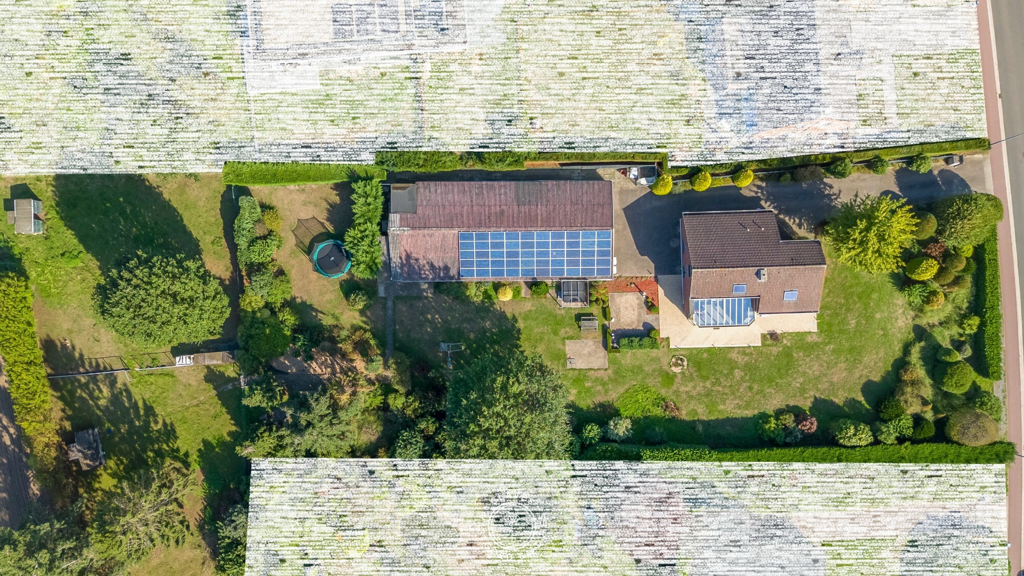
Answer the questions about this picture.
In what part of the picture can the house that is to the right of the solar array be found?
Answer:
right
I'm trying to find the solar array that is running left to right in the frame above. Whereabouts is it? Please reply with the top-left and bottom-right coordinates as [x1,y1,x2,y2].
[459,231,615,278]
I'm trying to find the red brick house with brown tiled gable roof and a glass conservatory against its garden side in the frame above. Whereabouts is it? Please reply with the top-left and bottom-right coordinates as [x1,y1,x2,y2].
[678,208,828,326]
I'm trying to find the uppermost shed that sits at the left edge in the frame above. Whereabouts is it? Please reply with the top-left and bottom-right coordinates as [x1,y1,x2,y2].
[7,199,48,234]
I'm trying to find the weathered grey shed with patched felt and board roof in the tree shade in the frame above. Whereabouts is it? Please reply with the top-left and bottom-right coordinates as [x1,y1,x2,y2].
[67,427,105,470]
